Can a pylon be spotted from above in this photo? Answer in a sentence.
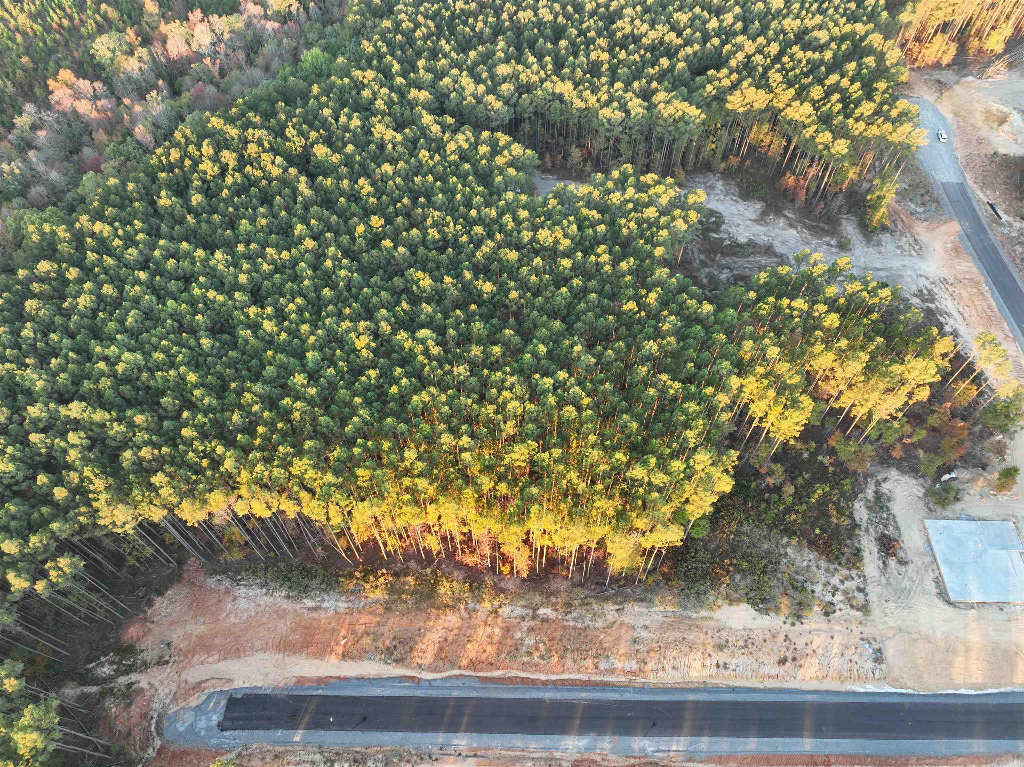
No, the frame has no pylon in it.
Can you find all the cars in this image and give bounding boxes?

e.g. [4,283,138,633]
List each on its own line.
[936,130,948,143]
